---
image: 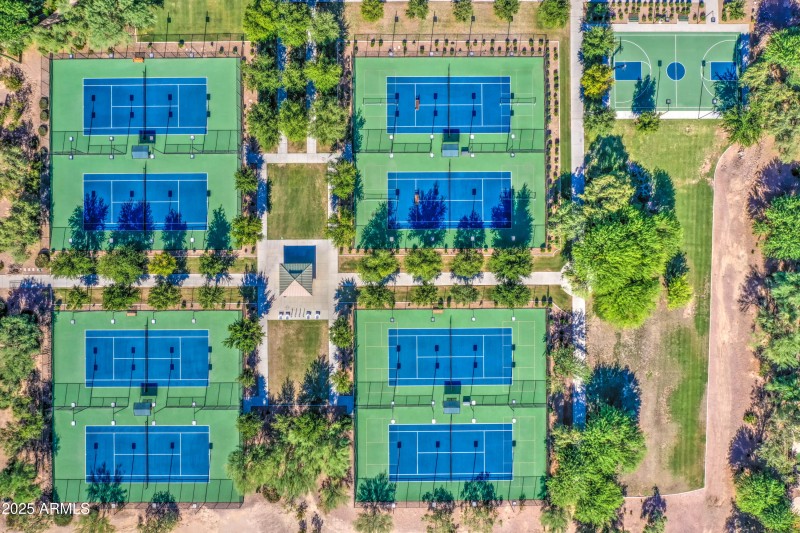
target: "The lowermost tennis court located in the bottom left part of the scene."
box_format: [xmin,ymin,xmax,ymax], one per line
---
[53,406,243,504]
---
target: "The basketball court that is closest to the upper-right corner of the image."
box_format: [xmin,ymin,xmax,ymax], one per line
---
[609,23,748,120]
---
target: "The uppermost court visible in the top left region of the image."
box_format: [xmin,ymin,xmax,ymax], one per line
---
[51,57,241,155]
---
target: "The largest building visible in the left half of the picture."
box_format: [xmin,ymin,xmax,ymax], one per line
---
[278,263,312,297]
